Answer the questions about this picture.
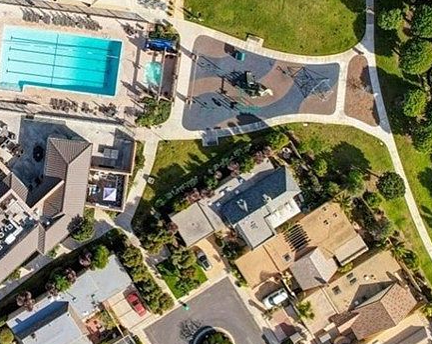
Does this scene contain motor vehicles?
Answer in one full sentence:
Yes, the frame does contain a motor vehicle.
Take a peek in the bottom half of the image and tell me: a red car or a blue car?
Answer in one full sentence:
The one visible in the bottom half of the image is a red car.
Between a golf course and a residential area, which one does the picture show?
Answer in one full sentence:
The area seen from above is a residential area.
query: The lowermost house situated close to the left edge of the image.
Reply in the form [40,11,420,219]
[6,294,91,344]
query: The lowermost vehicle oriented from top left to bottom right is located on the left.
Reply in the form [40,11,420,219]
[126,291,146,317]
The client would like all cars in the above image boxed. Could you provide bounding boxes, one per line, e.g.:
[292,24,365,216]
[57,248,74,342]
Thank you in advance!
[261,287,288,307]
[193,246,214,272]
[126,291,146,317]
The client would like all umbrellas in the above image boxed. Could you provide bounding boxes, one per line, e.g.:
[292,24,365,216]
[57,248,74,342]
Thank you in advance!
[32,147,44,160]
[103,187,115,201]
